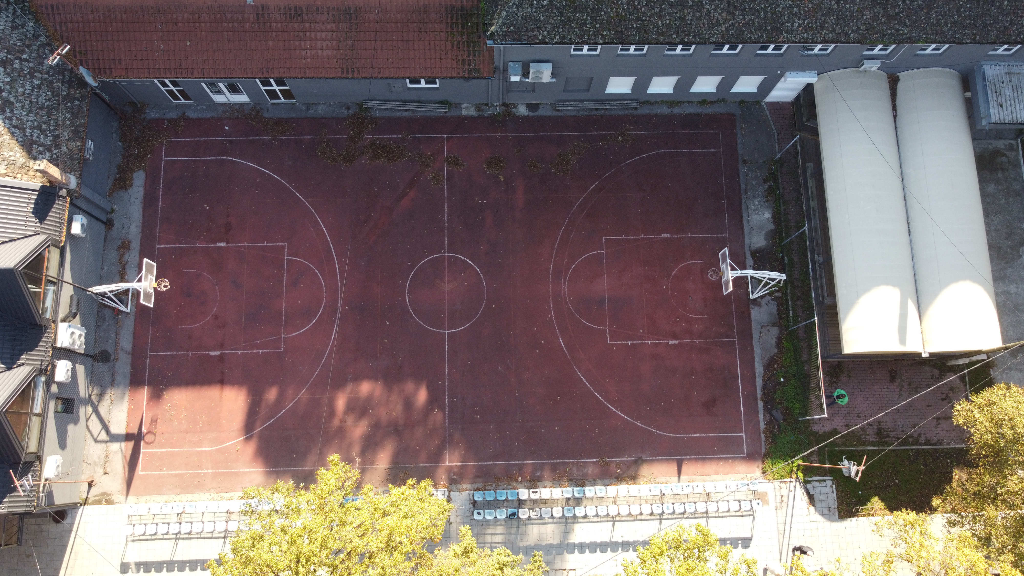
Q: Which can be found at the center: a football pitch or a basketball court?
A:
basketball court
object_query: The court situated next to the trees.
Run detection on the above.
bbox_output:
[126,114,763,499]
